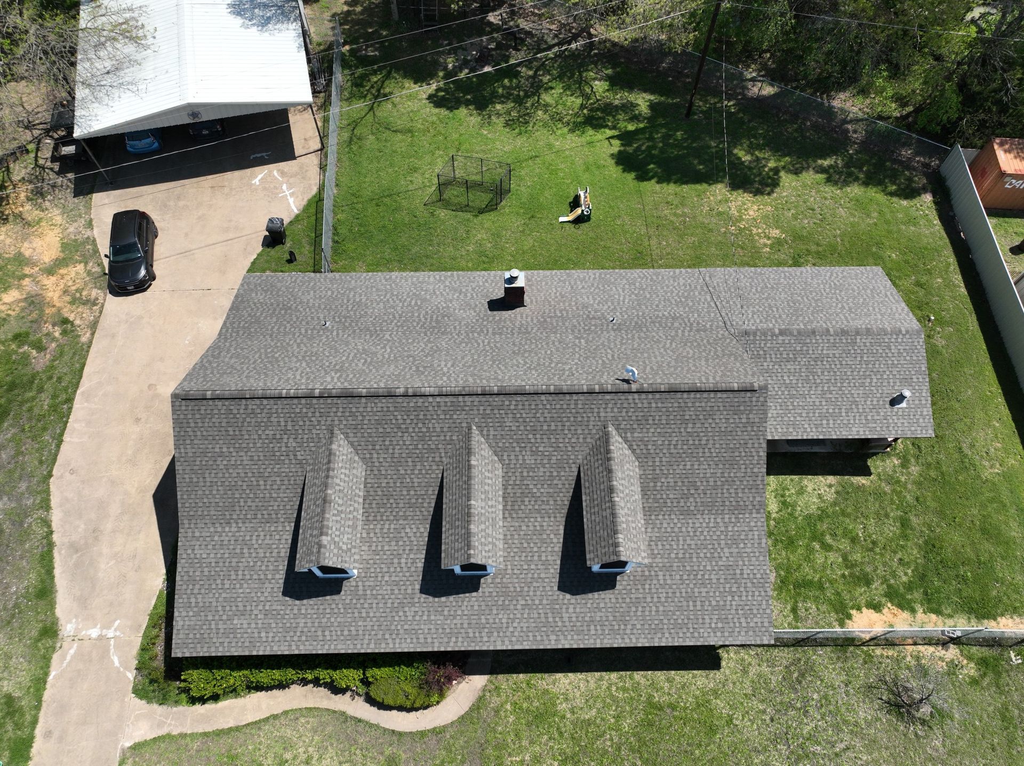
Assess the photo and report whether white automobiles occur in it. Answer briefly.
No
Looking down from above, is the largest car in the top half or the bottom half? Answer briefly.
top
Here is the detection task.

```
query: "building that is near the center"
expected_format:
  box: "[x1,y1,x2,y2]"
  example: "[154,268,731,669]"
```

[171,266,934,658]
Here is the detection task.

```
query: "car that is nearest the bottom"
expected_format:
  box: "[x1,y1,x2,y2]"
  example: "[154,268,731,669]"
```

[101,206,162,293]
